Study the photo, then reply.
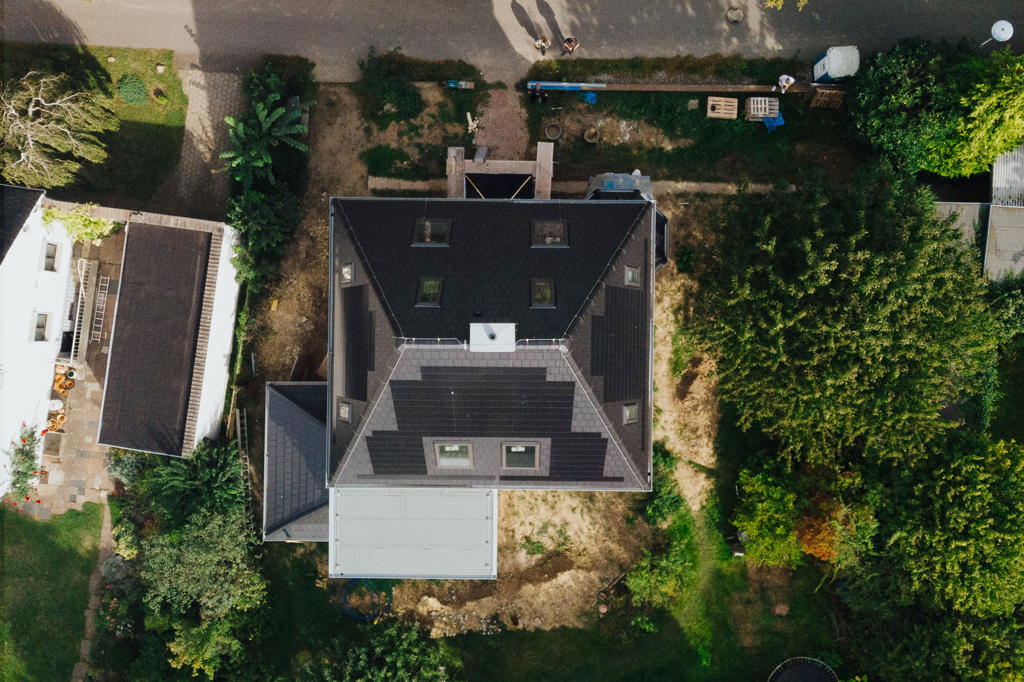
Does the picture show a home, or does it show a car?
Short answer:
home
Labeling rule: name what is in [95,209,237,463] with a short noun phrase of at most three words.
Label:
building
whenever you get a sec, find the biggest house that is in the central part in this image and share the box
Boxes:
[322,173,668,495]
